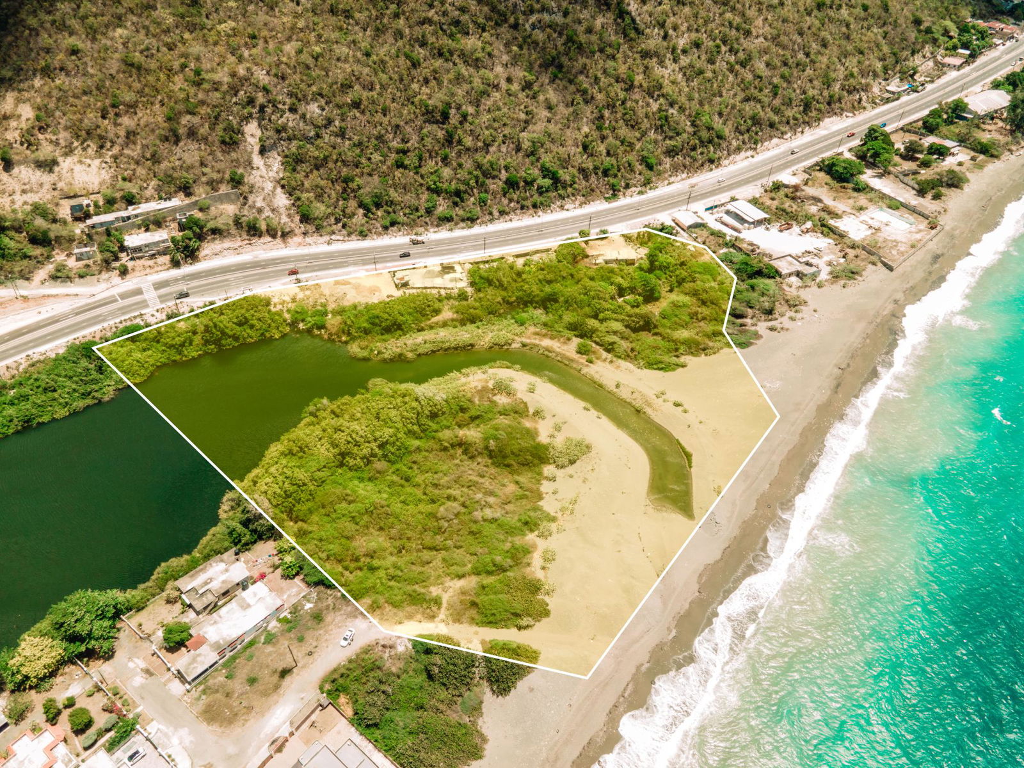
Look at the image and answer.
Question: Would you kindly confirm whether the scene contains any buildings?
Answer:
Yes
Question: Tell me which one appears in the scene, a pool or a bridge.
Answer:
pool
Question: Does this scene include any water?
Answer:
Yes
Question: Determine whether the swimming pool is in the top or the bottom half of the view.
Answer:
top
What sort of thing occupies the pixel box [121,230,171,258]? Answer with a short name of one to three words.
house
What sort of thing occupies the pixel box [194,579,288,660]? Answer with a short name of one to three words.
house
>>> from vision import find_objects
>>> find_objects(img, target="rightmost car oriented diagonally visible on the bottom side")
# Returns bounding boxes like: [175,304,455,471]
[336,622,359,649]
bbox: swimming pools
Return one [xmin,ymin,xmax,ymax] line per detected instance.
[865,207,918,231]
